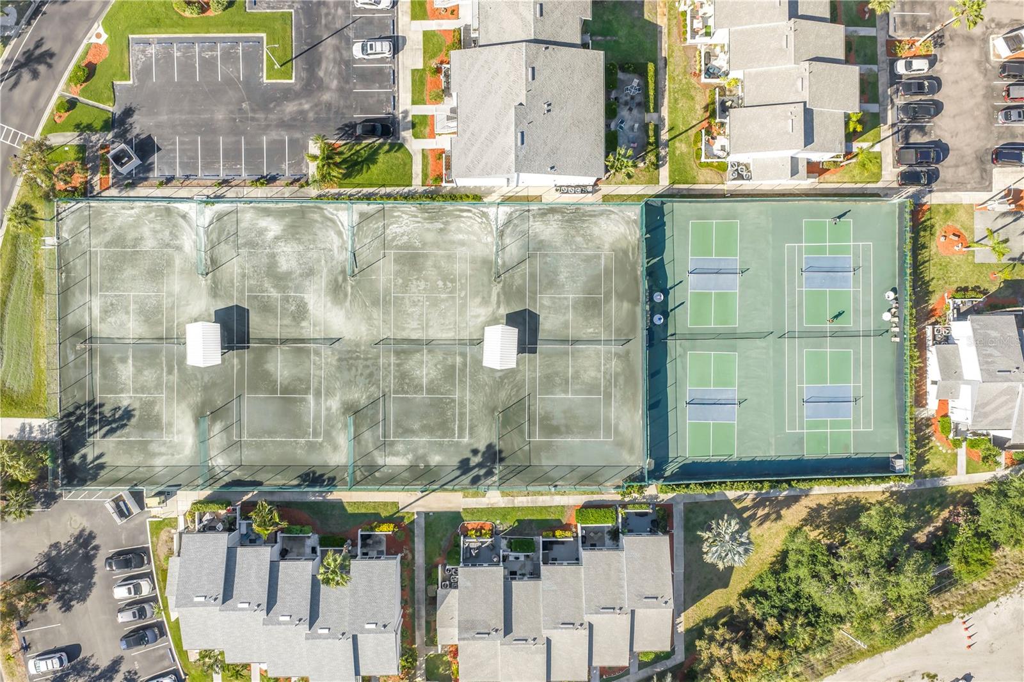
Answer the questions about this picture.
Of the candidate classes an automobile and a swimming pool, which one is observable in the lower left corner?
automobile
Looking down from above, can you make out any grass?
Yes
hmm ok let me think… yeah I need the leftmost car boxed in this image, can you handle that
[29,651,71,674]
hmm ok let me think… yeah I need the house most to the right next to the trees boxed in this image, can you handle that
[928,315,1024,447]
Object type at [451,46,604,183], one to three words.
building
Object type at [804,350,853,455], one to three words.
sports court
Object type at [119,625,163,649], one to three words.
car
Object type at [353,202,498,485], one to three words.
tennis court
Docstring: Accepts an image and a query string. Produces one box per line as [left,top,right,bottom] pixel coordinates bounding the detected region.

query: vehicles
[995,107,1024,125]
[112,577,155,599]
[894,146,942,166]
[897,78,937,97]
[1001,86,1024,104]
[895,167,934,185]
[989,146,1024,166]
[995,61,1024,80]
[353,39,393,59]
[892,58,930,76]
[896,103,936,121]
[29,651,71,674]
[116,600,156,623]
[119,625,163,649]
[355,121,395,140]
[105,551,150,572]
